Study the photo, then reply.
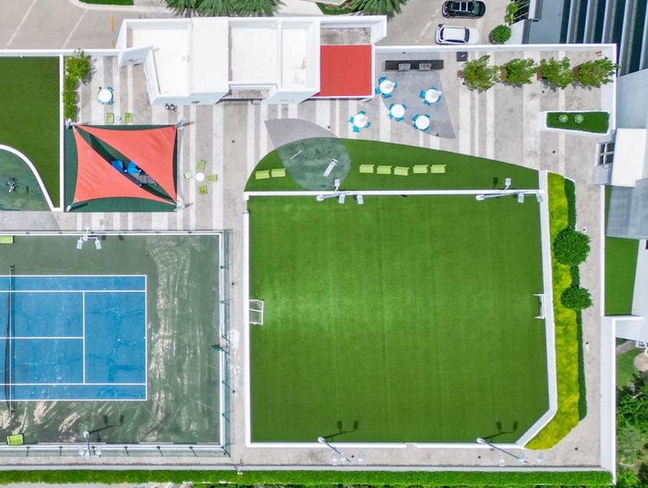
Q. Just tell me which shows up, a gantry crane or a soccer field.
soccer field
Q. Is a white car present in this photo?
Yes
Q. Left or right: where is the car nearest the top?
right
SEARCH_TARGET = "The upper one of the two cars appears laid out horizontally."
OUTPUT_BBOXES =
[438,0,484,20]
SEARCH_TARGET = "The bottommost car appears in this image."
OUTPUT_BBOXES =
[431,23,478,46]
